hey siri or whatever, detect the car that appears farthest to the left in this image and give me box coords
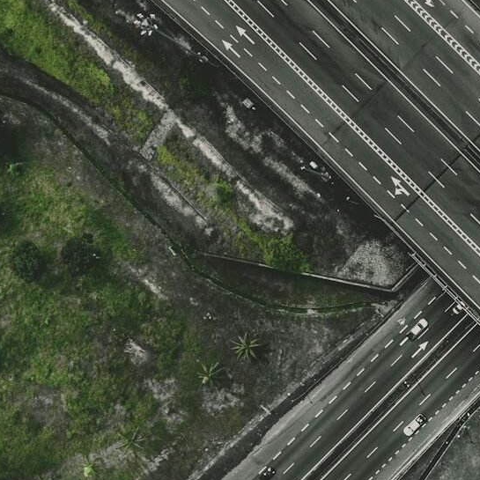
[255,464,276,480]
